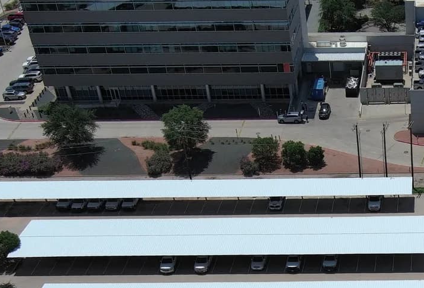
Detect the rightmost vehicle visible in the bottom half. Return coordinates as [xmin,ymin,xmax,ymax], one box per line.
[368,197,382,210]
